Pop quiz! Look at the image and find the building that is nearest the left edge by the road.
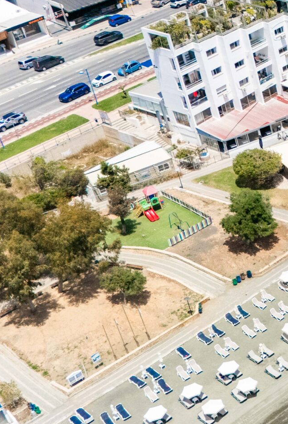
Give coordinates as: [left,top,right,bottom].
[0,10,47,56]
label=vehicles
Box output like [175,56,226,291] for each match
[91,29,124,44]
[116,58,145,75]
[56,80,93,101]
[90,69,120,87]
[106,12,133,25]
[0,108,34,130]
[28,51,69,71]
[7,51,38,71]
[165,0,184,8]
[183,0,210,8]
